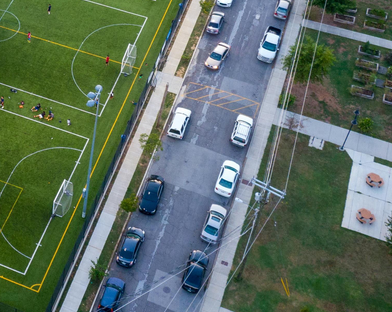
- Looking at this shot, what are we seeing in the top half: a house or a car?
car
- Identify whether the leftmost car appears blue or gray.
blue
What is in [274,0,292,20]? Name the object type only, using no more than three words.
car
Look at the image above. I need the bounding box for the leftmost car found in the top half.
[168,107,190,139]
